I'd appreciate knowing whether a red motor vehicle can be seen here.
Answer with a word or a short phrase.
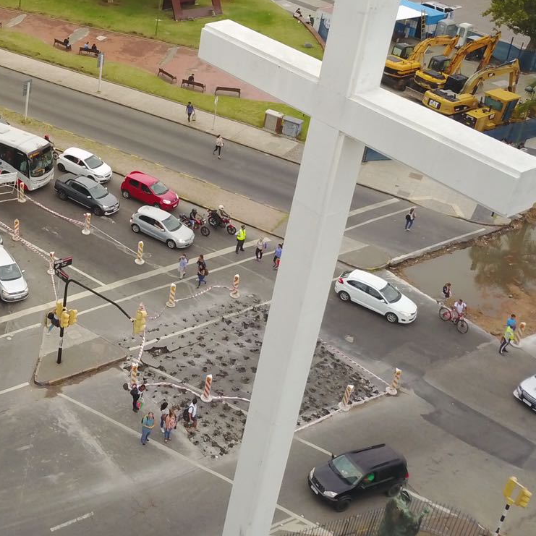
Yes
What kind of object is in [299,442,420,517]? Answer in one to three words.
car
